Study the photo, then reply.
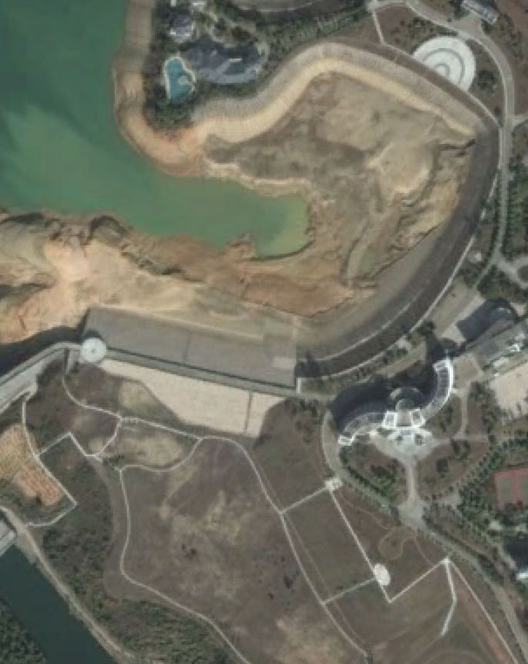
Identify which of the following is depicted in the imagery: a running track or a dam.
dam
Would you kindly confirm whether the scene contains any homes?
Yes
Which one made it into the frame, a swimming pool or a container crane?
swimming pool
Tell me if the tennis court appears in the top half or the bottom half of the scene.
bottom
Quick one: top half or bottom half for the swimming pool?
top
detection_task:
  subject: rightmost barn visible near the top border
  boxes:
[463,0,501,25]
